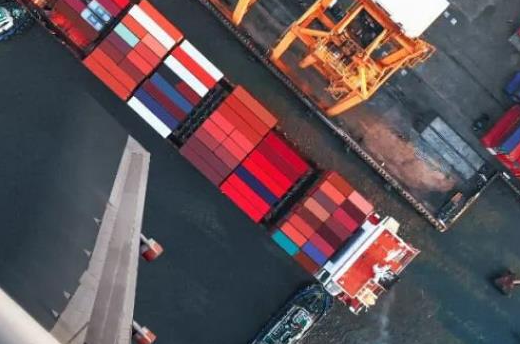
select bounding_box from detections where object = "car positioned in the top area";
[470,112,490,128]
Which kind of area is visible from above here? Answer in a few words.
port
